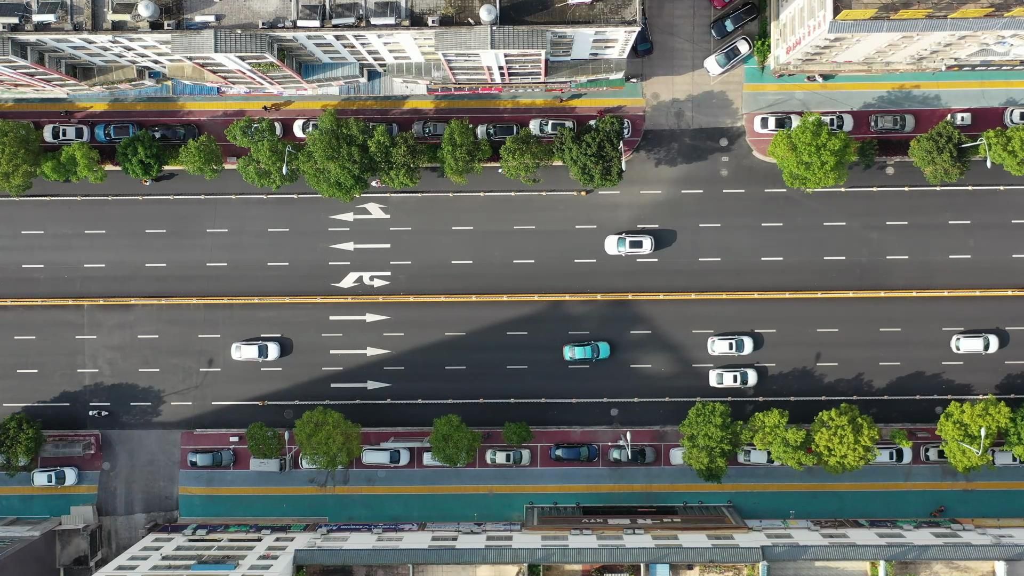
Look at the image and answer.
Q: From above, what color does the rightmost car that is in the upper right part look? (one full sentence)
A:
In this view, the rightmost car that is in the upper right part is white.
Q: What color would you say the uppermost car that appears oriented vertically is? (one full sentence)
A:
The uppermost car that appears oriented vertically looks black in the image.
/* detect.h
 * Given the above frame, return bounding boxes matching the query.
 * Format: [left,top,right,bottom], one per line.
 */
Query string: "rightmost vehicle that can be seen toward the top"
[1003,106,1024,128]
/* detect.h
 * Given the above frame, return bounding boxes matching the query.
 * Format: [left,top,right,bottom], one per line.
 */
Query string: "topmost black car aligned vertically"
[632,7,656,60]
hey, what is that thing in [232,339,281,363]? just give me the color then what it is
white car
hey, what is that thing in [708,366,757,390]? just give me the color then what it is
white car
